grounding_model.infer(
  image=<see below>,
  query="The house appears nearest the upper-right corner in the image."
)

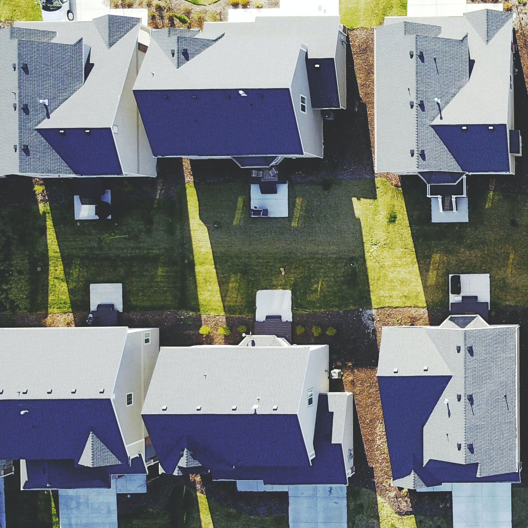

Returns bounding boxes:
[374,9,525,185]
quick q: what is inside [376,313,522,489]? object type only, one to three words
house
